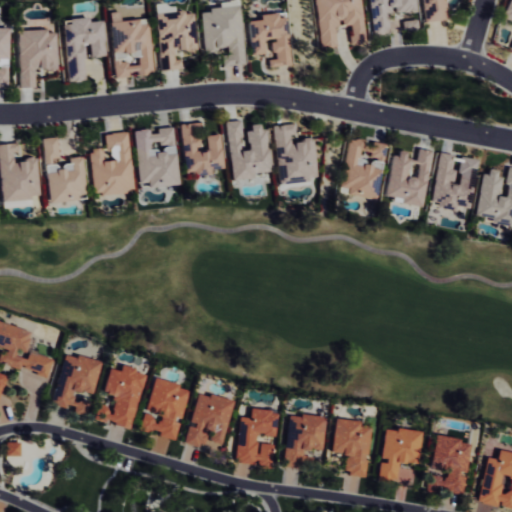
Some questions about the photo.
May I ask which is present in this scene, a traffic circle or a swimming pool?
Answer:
swimming pool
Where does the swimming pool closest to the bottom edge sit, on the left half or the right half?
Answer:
left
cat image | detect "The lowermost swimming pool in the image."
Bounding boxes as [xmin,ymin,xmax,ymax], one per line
[20,458,43,487]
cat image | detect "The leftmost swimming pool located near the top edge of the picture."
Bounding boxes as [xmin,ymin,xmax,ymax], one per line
[24,4,50,20]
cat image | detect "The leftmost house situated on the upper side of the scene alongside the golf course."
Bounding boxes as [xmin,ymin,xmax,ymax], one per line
[0,142,39,208]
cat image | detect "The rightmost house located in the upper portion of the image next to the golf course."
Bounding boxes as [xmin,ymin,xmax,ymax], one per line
[478,170,512,226]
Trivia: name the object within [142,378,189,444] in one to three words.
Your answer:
house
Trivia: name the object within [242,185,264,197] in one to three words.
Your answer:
swimming pool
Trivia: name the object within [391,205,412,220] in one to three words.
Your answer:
swimming pool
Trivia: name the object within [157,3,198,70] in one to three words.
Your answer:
house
